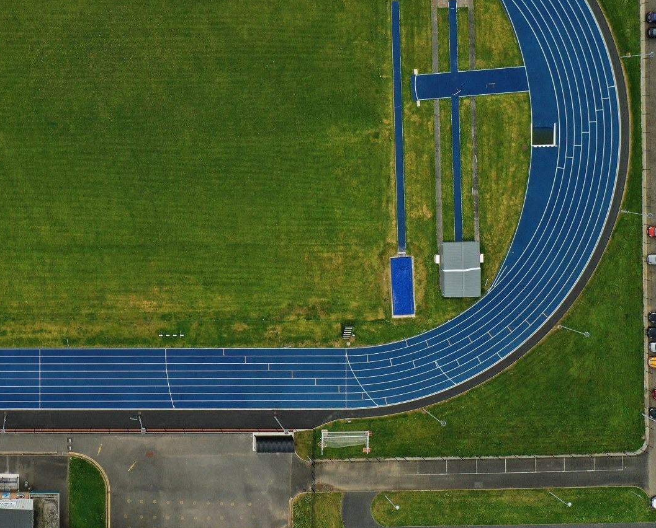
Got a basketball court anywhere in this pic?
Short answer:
No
